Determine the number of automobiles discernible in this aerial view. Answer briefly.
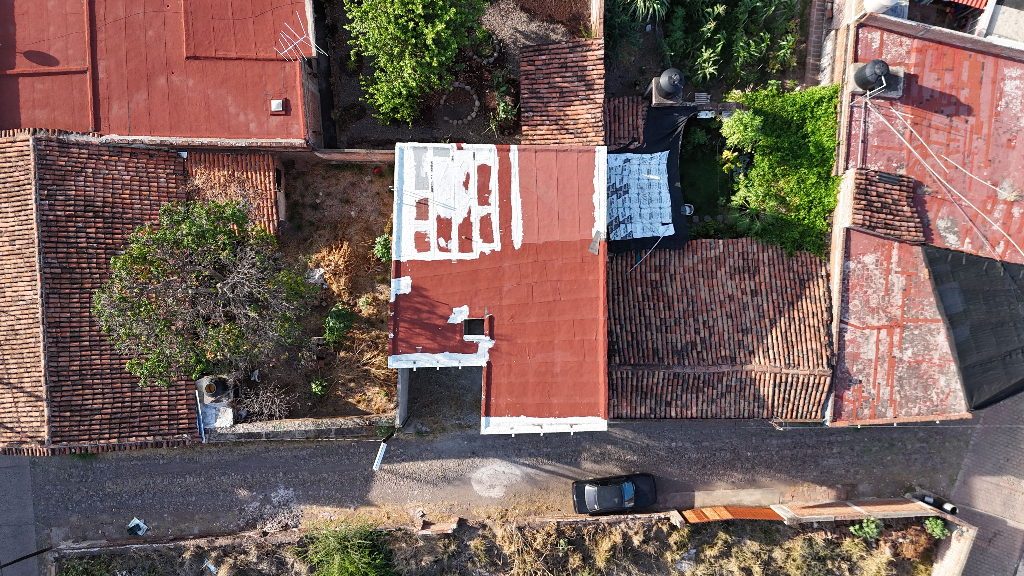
1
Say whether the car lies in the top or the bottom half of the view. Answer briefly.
bottom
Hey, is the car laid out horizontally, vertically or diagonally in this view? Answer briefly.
horizontally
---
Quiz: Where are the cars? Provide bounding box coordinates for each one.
[569,471,660,515]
